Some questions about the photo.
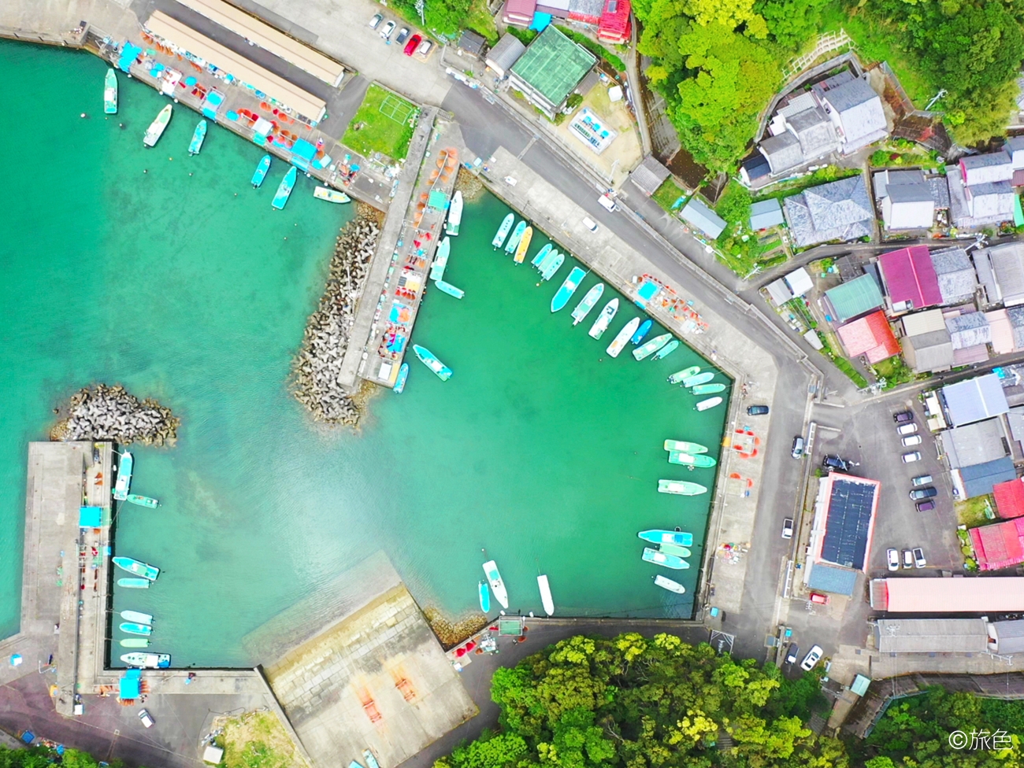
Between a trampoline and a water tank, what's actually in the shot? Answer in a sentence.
Looking from above, you can make out a water tank.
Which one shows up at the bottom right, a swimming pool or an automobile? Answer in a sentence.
There is an automobile at the bottom right.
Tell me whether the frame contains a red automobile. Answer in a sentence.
Yes, I can see a red automobile in this picture.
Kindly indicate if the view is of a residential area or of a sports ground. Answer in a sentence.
It's a residential area.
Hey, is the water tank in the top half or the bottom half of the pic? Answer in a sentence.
The water tank sits in the top half of the picture.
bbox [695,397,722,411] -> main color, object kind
white boat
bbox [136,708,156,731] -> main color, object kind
white vehicle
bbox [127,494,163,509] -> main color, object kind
green boat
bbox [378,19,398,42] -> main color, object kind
white car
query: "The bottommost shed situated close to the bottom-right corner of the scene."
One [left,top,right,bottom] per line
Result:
[845,674,871,698]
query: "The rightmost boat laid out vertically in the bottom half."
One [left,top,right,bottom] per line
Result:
[537,574,554,616]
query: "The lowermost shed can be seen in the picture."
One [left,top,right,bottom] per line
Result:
[202,743,226,765]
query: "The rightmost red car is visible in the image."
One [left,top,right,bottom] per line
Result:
[809,591,829,606]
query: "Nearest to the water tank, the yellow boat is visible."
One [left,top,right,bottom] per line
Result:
[513,226,532,265]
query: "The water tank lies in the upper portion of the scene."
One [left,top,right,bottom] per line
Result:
[567,108,617,156]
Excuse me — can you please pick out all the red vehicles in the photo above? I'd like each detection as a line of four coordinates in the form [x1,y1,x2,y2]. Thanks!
[403,34,423,58]
[809,591,829,606]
